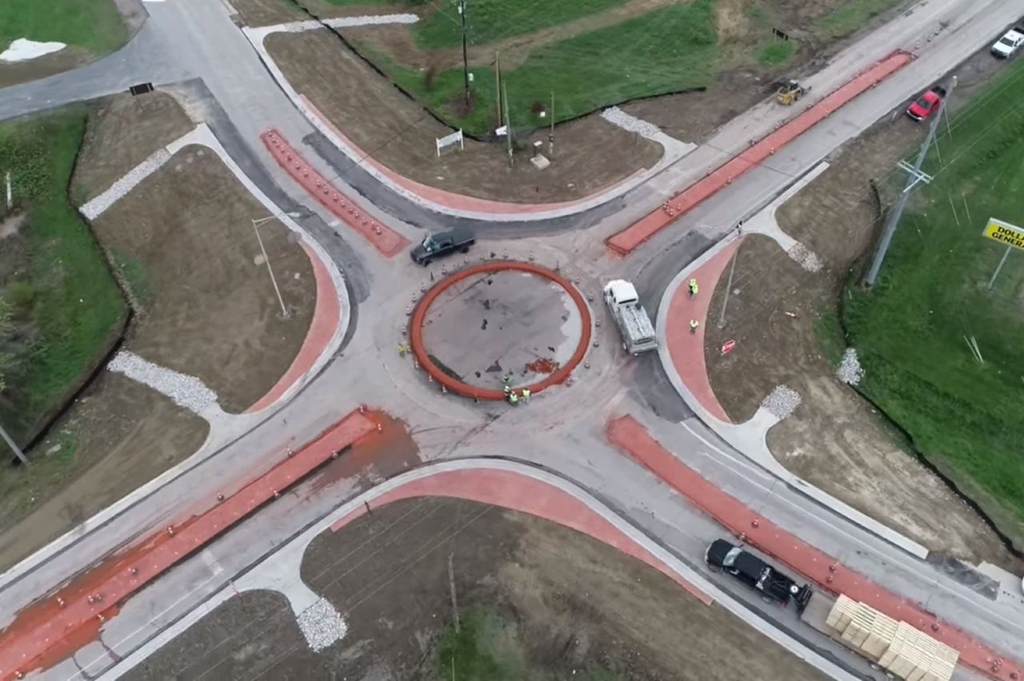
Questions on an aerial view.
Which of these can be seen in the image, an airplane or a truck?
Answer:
truck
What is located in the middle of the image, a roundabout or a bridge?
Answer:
roundabout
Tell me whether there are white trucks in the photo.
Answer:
Yes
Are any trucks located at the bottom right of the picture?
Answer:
Yes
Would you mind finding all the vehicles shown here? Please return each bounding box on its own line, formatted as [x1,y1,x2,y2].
[408,224,480,266]
[779,78,812,107]
[907,86,954,125]
[993,23,1024,59]
[597,278,660,355]
[703,544,814,622]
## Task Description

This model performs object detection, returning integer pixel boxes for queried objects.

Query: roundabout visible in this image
[339,219,662,461]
